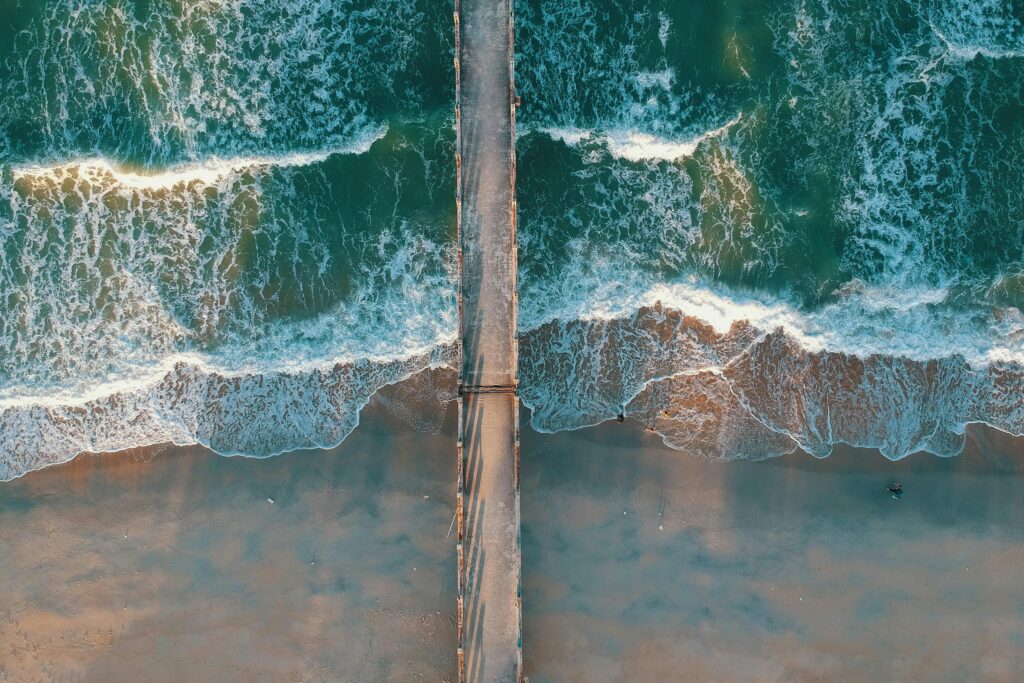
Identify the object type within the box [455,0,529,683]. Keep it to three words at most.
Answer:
pier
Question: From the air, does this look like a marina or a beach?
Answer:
beach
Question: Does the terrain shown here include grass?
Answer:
No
